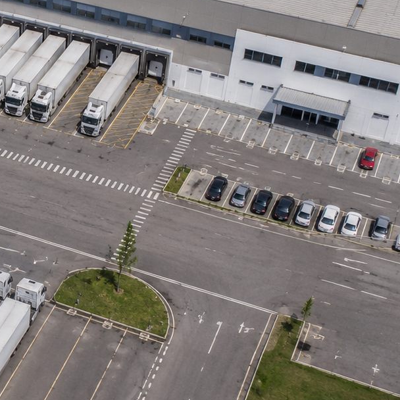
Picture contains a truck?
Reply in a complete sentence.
Yes, a truck is visible in the scene.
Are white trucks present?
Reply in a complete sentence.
Yes, a white truck appears in the view.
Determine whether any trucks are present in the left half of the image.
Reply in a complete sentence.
Yes, in the left half of the image there is a truck.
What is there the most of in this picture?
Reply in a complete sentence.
For the most part, this view shows paved ground.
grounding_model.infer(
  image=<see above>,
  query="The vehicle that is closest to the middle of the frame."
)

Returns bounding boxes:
[206,178,227,202]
